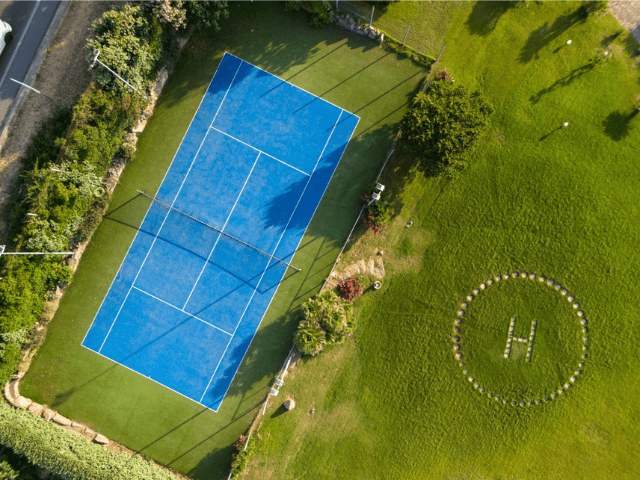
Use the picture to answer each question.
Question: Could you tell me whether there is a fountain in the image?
No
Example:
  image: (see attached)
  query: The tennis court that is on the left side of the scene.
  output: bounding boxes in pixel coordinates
[19,0,431,480]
